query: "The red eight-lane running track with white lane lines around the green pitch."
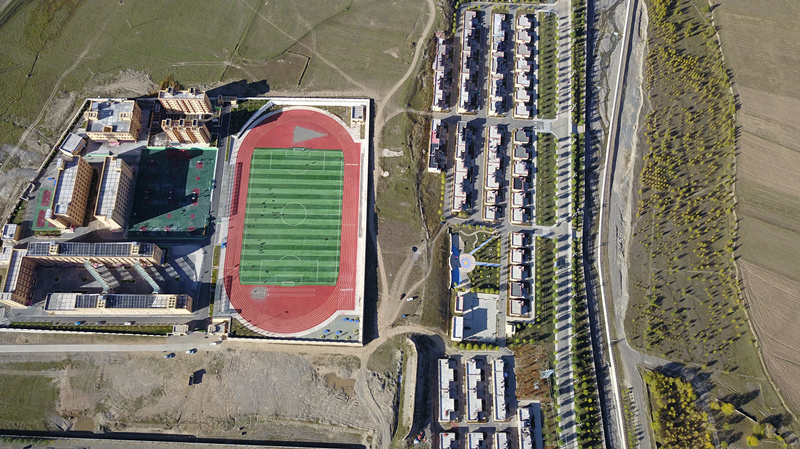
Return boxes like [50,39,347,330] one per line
[223,109,360,333]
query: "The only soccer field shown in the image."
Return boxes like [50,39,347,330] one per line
[238,147,343,286]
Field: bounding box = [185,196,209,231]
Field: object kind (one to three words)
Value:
basketball court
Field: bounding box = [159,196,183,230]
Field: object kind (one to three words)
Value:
basketball court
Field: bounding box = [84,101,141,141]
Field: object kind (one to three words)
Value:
building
